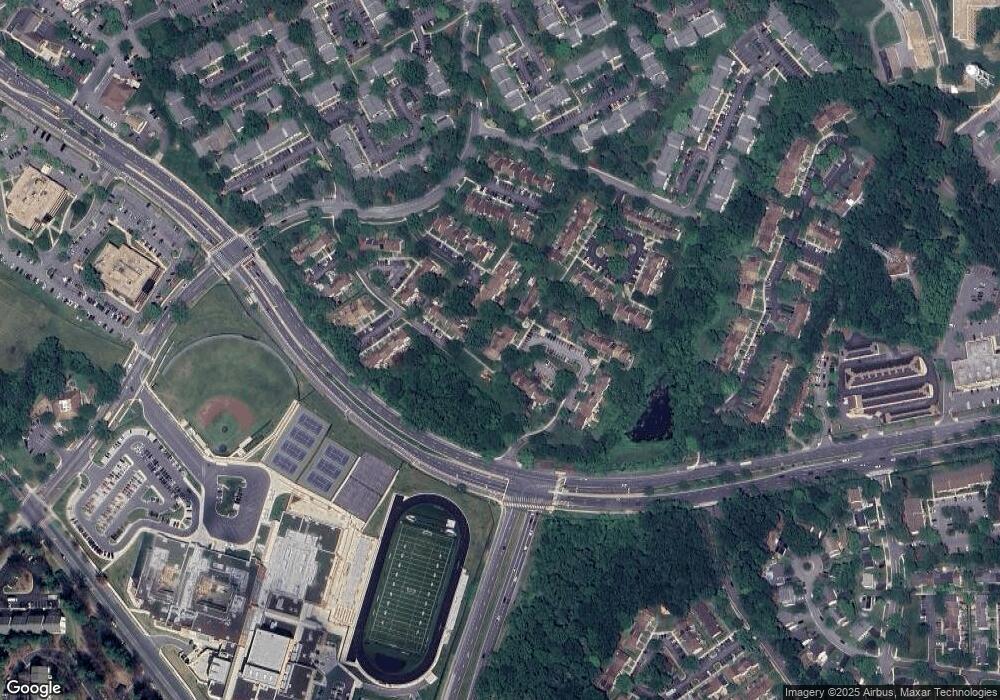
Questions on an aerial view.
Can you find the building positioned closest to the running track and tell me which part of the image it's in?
bottom left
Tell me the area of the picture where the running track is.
bottom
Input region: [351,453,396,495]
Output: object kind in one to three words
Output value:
sports court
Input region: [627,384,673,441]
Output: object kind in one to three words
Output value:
pond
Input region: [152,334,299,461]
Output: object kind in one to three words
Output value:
baseball field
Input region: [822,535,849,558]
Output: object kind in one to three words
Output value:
house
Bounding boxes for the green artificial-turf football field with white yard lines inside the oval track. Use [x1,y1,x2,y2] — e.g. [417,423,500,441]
[364,503,461,673]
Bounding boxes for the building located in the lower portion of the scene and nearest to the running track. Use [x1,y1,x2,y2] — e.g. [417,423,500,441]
[137,513,359,700]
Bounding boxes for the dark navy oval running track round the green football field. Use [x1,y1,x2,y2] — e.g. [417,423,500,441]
[347,494,470,681]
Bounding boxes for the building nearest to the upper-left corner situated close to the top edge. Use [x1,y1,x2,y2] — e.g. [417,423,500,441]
[9,9,50,48]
